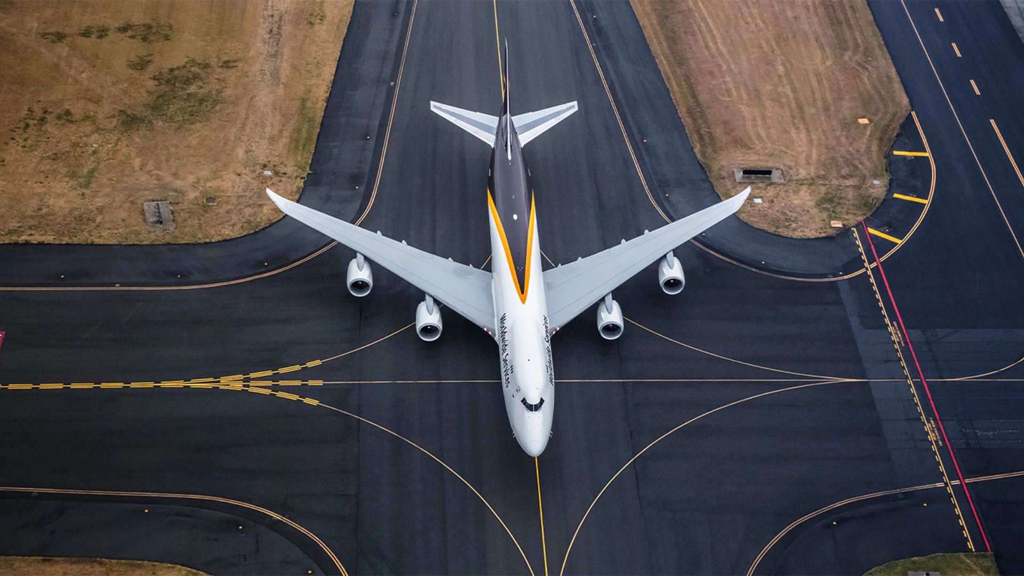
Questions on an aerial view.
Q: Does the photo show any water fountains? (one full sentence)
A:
No, no water fountain is visible in the scene.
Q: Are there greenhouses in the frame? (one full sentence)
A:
No, no greenhouse is visible in the scene.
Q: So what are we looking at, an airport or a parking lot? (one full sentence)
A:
What you see here is an airport.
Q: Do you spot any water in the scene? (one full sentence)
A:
No, no water is visible.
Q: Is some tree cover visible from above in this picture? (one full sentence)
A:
No, there is no tree cover in the image.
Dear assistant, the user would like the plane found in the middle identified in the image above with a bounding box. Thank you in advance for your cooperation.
[266,38,752,461]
